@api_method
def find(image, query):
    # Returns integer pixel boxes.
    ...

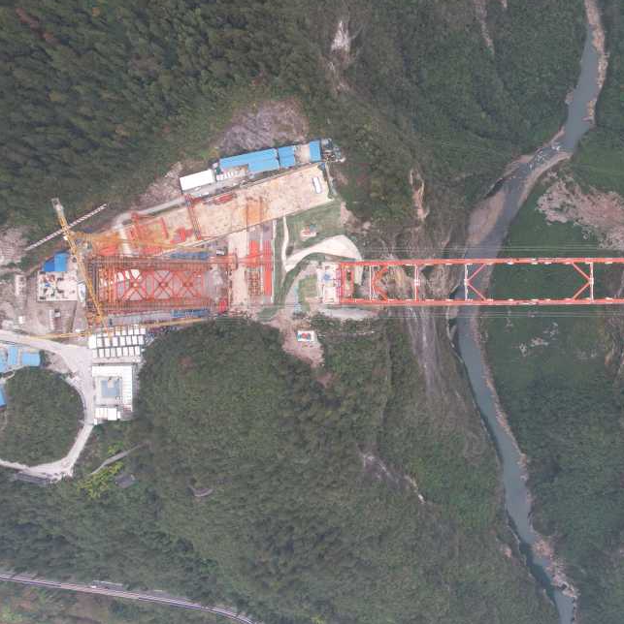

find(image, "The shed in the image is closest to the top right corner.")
[309,140,324,165]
